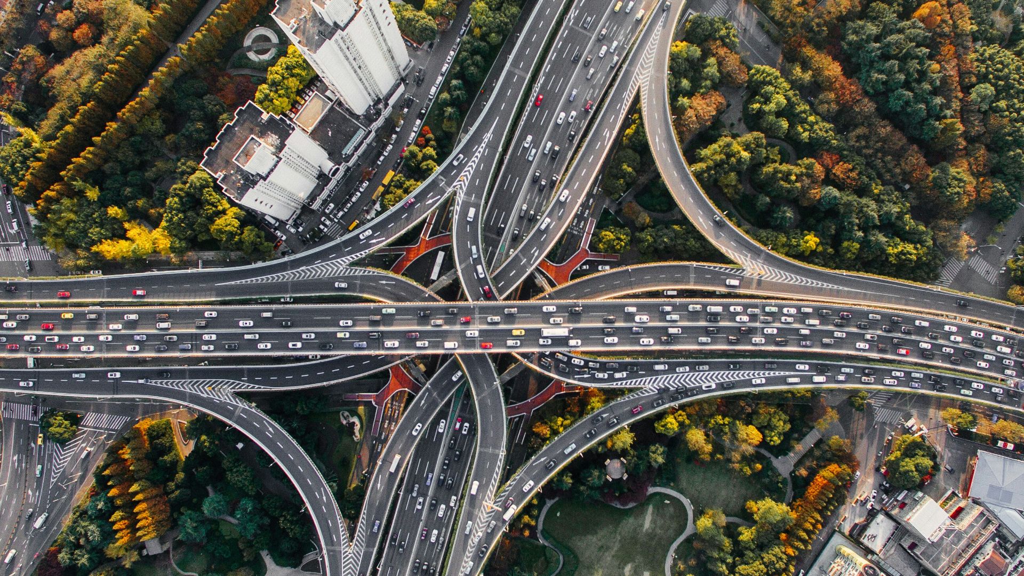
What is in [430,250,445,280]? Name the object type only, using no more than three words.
vehicle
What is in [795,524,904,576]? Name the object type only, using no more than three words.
building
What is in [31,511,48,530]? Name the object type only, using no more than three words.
vehicle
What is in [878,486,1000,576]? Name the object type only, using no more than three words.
building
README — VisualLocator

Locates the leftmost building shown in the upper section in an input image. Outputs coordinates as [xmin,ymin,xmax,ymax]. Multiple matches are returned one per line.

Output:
[199,100,325,216]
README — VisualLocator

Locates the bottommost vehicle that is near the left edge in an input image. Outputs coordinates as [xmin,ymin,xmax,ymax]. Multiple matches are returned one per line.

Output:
[1,546,16,566]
